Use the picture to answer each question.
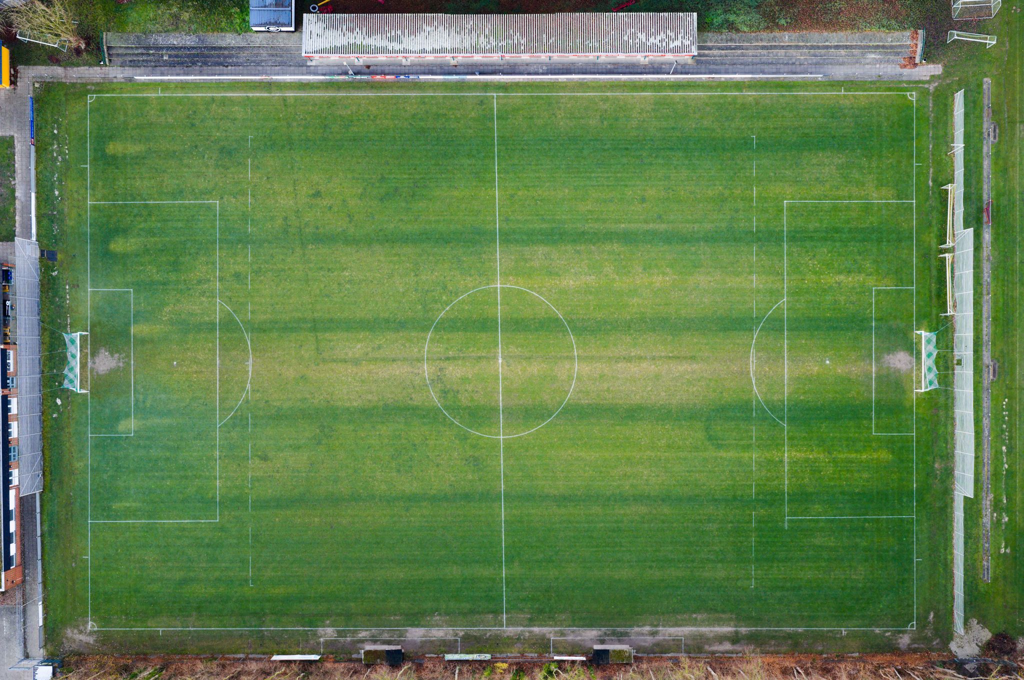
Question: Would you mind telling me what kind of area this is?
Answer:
sports ground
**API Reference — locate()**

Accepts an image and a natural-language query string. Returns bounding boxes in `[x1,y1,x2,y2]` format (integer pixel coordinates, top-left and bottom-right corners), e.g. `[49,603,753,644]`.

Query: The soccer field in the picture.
[81,87,921,654]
